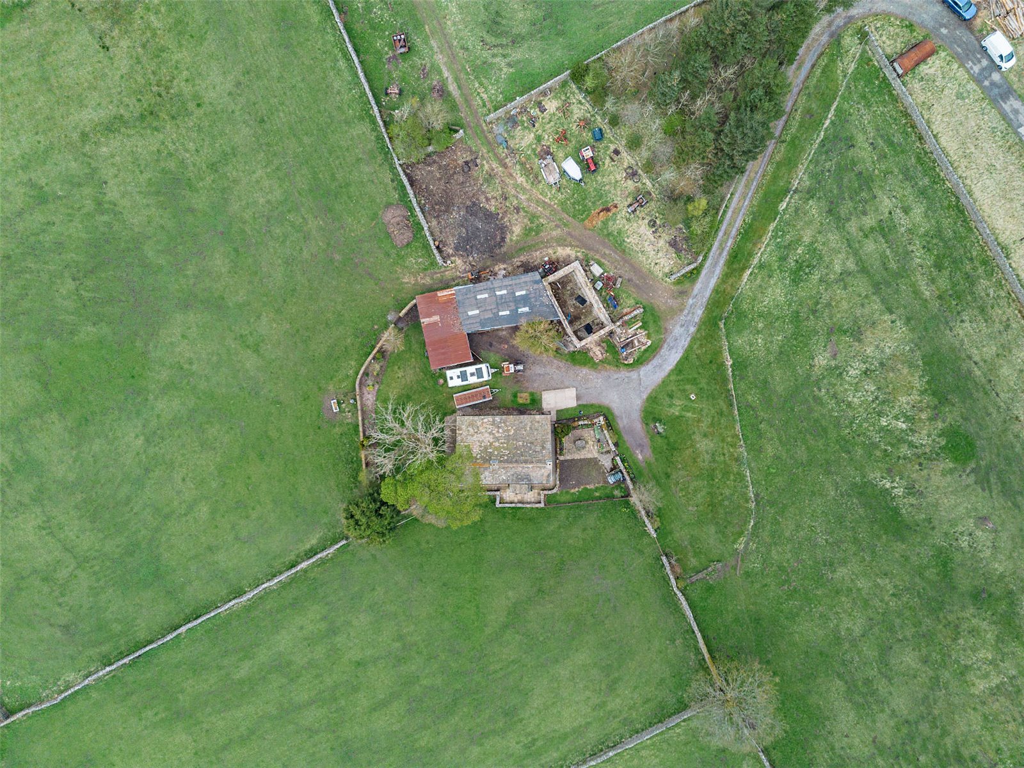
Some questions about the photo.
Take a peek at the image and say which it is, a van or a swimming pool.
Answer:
van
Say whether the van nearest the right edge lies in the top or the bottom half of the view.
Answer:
top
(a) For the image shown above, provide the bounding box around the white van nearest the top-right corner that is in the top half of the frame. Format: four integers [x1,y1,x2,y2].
[981,30,1014,71]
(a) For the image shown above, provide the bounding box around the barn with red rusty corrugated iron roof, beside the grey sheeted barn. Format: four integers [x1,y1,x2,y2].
[416,288,474,369]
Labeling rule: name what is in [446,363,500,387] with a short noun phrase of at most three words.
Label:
camper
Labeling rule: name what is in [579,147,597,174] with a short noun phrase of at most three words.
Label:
work vehicle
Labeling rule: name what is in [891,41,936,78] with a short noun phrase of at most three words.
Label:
trailer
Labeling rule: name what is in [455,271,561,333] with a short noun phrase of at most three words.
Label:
barn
